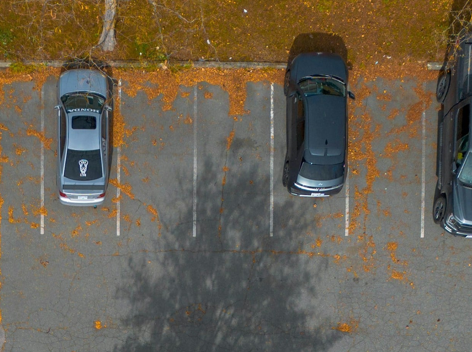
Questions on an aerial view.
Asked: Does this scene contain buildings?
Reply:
No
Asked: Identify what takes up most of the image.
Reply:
paved ground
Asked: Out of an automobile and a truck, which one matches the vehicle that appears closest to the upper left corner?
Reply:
automobile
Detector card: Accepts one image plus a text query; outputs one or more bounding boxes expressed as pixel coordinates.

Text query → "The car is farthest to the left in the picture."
[52,69,115,210]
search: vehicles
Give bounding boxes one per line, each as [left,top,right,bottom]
[52,69,115,210]
[282,54,355,195]
[438,32,472,236]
